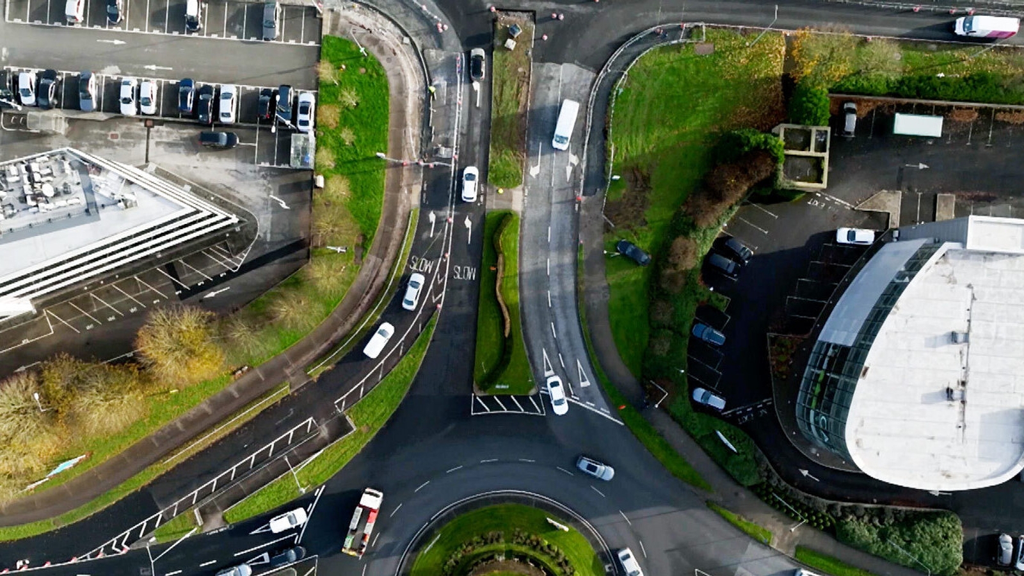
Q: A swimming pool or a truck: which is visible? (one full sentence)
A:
This aerial view contains a truck.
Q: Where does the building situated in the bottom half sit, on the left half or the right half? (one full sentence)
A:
You can find the building situated in the bottom half on the right side of the picture.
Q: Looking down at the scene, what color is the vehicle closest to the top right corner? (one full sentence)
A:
The vehicle closest to the top right corner looks white in the image.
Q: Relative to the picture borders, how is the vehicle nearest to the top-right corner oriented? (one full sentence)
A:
The vehicle nearest to the top-right corner is oriented from side to side.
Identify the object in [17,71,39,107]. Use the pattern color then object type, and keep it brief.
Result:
white car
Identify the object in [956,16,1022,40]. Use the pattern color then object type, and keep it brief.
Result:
white vehicle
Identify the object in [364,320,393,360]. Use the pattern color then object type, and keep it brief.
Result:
white van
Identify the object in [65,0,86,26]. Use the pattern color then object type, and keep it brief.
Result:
white car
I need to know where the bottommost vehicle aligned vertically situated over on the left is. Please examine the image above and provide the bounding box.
[343,490,381,565]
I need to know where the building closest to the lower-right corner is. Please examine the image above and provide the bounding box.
[797,216,1024,491]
